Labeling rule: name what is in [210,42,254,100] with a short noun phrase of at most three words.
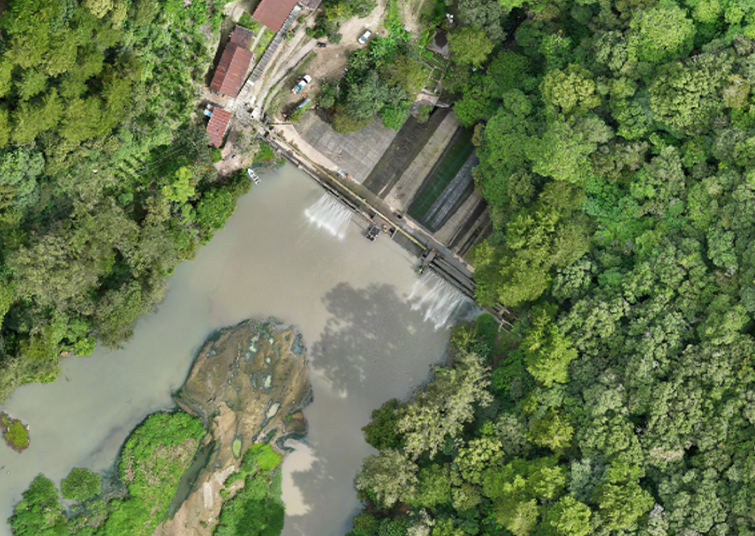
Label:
house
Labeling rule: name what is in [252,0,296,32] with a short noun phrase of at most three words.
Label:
house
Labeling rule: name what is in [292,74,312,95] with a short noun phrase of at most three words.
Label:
vehicle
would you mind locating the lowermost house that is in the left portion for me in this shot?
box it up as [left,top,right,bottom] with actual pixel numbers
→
[205,107,234,147]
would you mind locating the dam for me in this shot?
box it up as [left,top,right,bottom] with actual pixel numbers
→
[264,117,490,306]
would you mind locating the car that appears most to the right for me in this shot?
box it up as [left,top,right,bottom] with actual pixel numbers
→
[358,29,372,45]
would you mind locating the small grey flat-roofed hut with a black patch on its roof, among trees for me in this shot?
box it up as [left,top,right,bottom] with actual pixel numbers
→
[427,27,449,59]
